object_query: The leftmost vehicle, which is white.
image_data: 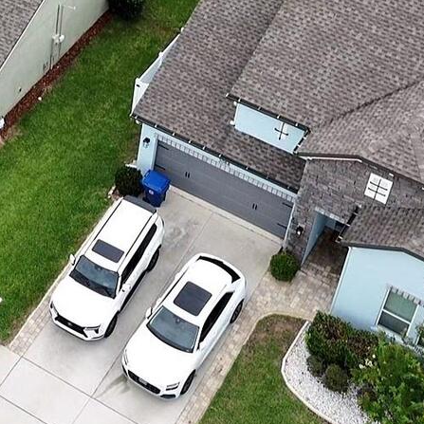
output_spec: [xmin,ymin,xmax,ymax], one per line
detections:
[43,199,167,345]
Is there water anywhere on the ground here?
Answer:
No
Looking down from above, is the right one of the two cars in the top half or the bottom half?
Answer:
bottom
